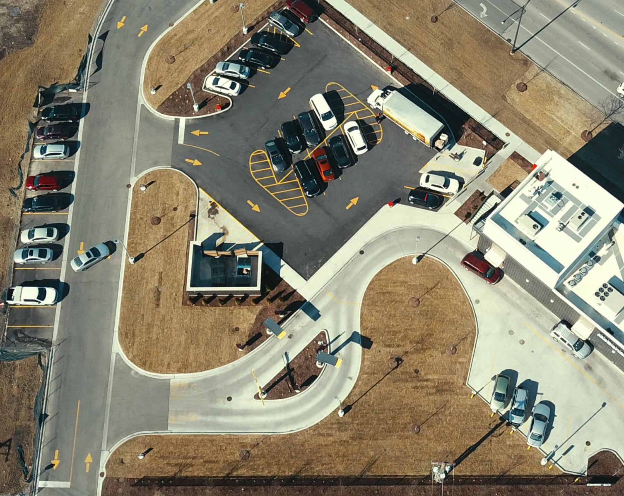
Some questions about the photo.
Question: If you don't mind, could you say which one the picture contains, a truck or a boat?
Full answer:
Looking from above, you can make out a truck.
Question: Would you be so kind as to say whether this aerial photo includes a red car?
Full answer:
Yes, a red car appears in the view.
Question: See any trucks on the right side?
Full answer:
Yes, a truck shows up on the right side.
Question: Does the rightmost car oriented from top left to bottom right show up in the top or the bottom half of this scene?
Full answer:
It is in the bottom half that the rightmost car oriented from top left to bottom right appears.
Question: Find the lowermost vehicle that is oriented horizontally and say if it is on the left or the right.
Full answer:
The lowermost vehicle that is oriented horizontally sits on the left side.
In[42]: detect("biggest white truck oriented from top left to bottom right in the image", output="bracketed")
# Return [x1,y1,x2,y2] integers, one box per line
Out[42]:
[366,87,453,156]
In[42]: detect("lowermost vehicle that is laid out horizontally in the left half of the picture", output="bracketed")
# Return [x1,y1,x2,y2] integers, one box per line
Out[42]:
[5,285,57,306]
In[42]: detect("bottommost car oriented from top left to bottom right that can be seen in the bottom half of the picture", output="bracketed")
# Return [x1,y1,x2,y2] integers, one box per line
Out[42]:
[552,322,592,358]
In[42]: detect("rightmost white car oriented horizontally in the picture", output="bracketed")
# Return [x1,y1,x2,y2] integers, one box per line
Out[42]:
[420,175,458,194]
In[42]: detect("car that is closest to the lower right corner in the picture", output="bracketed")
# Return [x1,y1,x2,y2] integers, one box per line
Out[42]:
[528,404,549,445]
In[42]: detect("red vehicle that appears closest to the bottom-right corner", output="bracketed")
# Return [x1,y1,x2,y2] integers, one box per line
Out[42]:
[460,251,502,284]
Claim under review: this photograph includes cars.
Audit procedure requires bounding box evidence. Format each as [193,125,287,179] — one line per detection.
[298,113,320,147]
[616,82,624,98]
[408,191,442,210]
[491,375,511,411]
[280,121,302,154]
[509,388,530,425]
[292,160,318,196]
[70,242,110,274]
[460,251,502,284]
[310,93,336,130]
[267,11,298,37]
[420,175,458,194]
[206,79,240,98]
[528,404,549,445]
[552,322,592,358]
[313,149,335,182]
[265,141,286,173]
[37,125,70,142]
[344,121,369,156]
[240,49,278,72]
[328,135,353,168]
[21,226,60,245]
[24,195,62,213]
[34,144,70,161]
[14,247,54,266]
[41,105,79,124]
[26,175,61,192]
[254,32,291,56]
[216,63,251,83]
